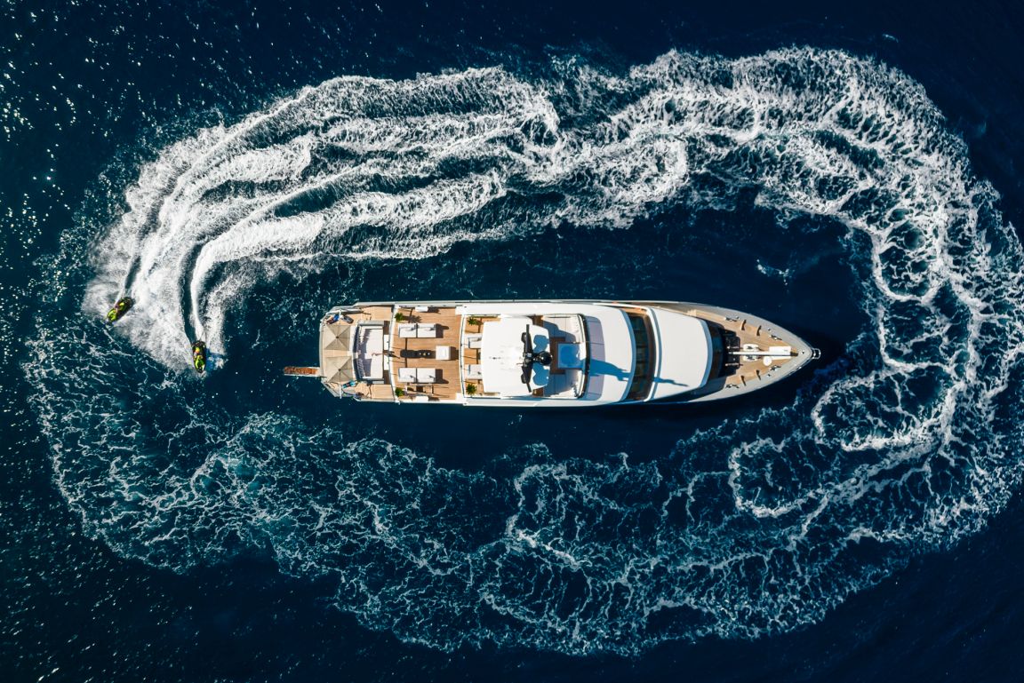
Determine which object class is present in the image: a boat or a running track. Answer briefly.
boat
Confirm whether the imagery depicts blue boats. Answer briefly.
No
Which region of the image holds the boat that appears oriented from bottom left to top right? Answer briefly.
left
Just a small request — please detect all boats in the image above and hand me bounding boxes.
[190,341,204,374]
[103,295,133,320]
[284,300,821,407]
